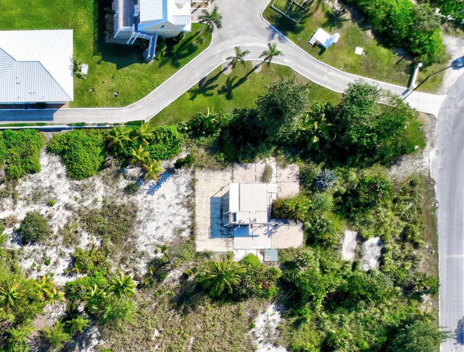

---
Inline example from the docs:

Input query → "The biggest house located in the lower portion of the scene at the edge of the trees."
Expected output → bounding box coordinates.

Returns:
[205,183,277,252]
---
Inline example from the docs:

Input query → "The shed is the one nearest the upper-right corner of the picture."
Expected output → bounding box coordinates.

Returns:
[310,27,339,49]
